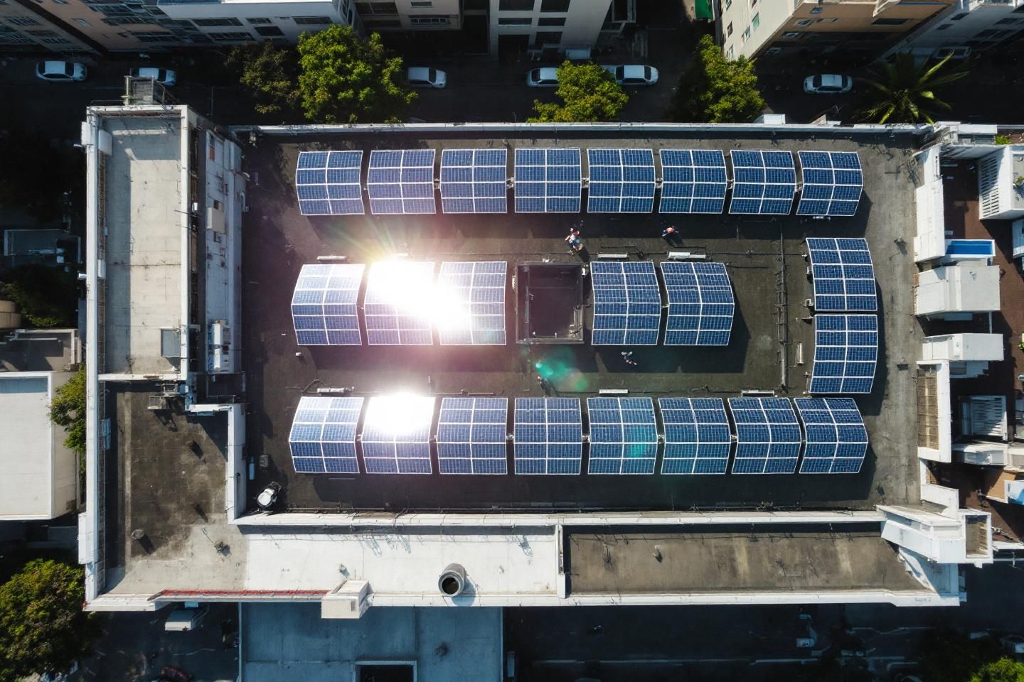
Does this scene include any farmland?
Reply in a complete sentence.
No, the scene doesn't show any farmland.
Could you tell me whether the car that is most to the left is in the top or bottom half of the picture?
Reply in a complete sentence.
Seen from above, the car that is most to the left lies in the top half of the view.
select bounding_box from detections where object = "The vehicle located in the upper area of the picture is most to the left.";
[38,58,90,84]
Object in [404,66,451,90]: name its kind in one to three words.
car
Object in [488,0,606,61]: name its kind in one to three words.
building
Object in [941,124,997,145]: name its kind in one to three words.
building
